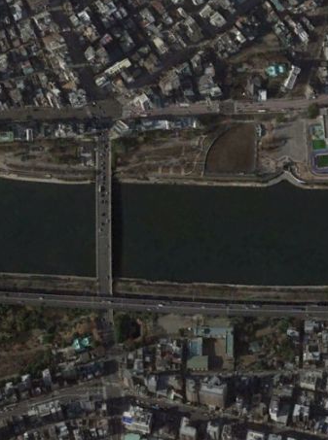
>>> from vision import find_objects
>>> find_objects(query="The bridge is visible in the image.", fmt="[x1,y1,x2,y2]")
[95,115,113,298]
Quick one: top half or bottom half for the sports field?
top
